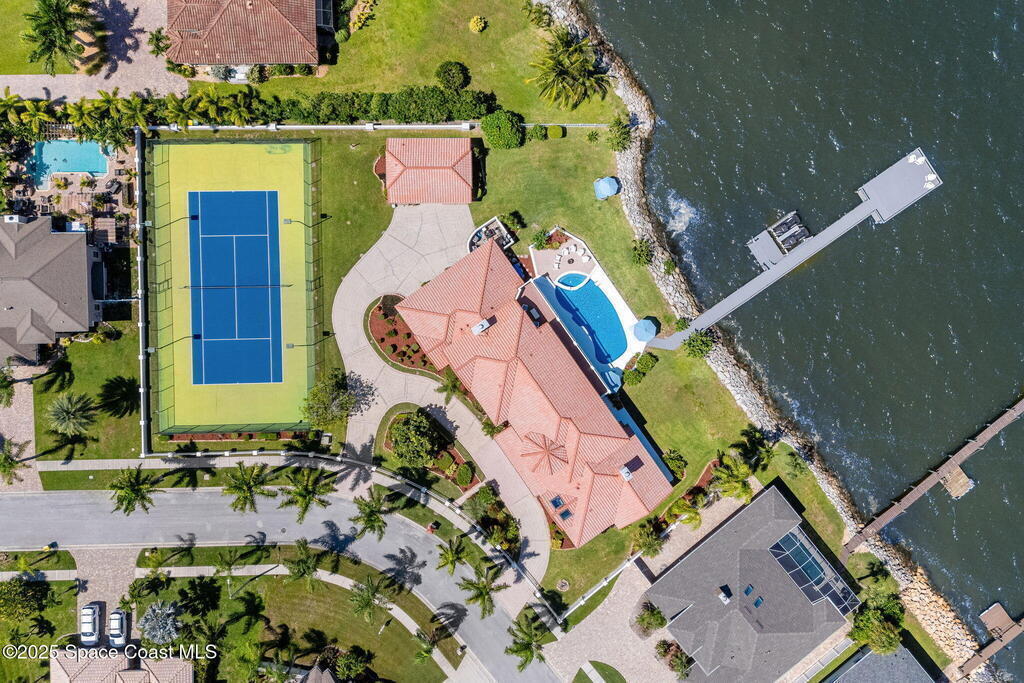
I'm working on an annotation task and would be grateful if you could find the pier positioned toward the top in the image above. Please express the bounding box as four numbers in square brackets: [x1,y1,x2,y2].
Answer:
[670,145,944,343]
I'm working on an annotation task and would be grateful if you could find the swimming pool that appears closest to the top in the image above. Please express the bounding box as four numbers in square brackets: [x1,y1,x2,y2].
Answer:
[27,138,111,193]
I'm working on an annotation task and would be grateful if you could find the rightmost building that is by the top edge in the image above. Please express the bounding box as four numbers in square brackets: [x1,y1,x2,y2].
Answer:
[163,0,320,72]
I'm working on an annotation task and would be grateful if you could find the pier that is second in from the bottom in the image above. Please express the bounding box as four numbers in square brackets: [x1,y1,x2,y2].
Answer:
[841,401,1024,554]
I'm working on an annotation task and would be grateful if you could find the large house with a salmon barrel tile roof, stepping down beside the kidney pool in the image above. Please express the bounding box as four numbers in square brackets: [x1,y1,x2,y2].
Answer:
[394,238,676,549]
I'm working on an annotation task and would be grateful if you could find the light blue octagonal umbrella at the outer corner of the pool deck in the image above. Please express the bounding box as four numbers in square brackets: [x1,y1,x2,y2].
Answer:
[633,318,656,340]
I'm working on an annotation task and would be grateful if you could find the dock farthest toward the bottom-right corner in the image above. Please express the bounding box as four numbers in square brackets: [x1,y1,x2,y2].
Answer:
[957,599,1024,675]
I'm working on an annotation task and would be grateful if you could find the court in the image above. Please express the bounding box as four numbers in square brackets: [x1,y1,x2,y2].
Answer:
[155,144,314,433]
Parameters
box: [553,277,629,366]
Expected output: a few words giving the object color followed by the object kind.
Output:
blue swimming pool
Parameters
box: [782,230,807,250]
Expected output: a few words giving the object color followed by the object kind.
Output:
gray boat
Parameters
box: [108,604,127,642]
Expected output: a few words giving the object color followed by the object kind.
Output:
white car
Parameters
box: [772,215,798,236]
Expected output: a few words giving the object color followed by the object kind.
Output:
gray boat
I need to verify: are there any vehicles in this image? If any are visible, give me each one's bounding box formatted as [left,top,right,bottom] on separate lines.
[79,601,100,642]
[108,604,127,642]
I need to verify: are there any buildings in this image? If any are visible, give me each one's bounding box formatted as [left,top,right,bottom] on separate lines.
[394,238,676,549]
[49,644,199,683]
[0,213,138,366]
[385,137,473,204]
[822,645,934,683]
[163,0,320,72]
[307,664,341,683]
[646,485,846,683]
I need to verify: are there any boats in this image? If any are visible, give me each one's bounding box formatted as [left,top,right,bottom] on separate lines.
[772,215,798,236]
[782,230,807,250]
